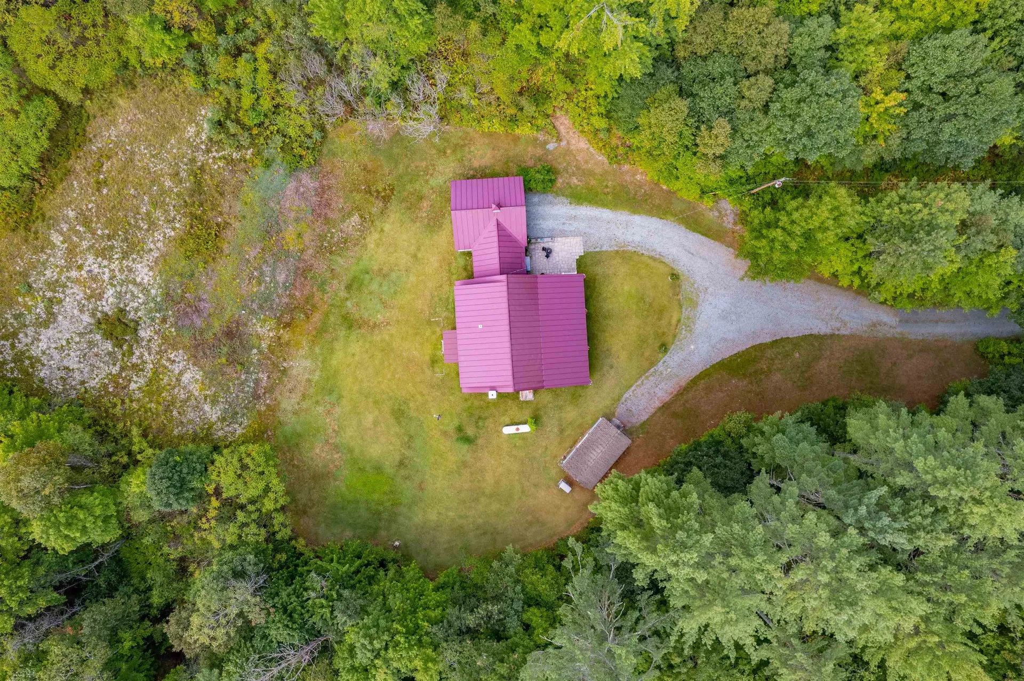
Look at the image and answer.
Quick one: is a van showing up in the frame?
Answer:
No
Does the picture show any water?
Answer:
No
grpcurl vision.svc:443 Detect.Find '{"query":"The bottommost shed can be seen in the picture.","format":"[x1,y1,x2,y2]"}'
[560,415,631,488]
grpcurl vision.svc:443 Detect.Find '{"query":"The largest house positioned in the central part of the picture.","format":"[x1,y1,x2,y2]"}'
[442,176,592,400]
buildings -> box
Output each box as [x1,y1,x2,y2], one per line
[442,176,592,400]
[560,415,631,488]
